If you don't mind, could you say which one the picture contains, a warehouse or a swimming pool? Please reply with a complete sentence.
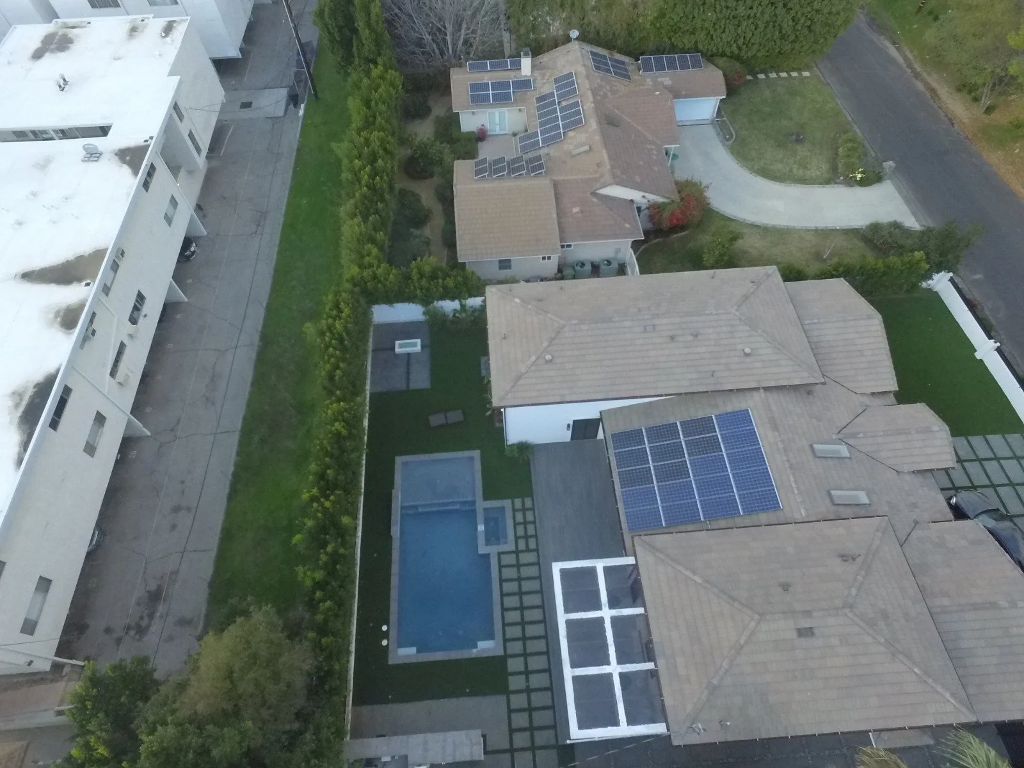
The image shows a swimming pool.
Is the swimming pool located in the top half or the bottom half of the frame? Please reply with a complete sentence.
It is in the bottom half that the swimming pool appears.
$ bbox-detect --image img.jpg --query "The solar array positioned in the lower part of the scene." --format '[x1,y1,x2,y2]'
[611,410,783,531]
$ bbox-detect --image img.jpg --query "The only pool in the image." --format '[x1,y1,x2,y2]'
[387,449,515,664]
